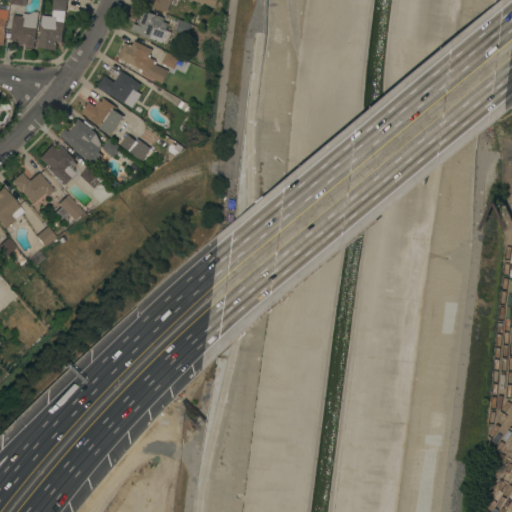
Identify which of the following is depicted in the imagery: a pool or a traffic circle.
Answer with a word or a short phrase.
pool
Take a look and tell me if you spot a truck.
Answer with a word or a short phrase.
Yes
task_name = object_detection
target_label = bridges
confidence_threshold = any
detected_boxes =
[203,0,512,372]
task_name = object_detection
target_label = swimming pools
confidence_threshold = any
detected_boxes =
[16,228,32,252]
[26,0,40,13]
[69,184,92,206]
[108,158,120,176]
[150,106,166,126]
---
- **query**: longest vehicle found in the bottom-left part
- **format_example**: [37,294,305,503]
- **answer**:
[48,382,80,414]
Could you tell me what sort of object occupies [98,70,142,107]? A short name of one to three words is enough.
house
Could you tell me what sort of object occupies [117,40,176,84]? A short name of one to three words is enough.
house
